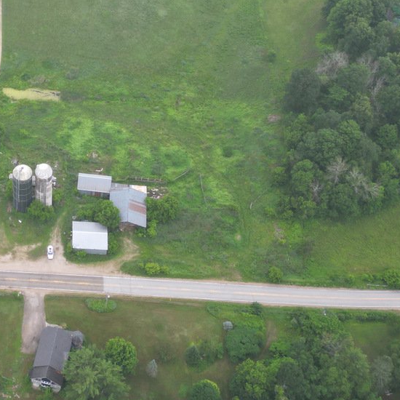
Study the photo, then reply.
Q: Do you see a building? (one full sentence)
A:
Yes, I can see a building in this picture.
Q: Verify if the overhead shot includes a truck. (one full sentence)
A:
No, there is no truck in the image.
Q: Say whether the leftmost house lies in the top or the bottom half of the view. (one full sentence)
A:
It is in the bottom half that the leftmost house appears.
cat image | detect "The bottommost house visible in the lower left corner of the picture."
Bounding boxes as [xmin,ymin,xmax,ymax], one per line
[31,325,73,391]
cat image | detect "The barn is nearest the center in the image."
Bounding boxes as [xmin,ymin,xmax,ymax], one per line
[110,184,147,233]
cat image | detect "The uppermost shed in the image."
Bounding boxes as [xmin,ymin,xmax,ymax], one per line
[77,173,111,197]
